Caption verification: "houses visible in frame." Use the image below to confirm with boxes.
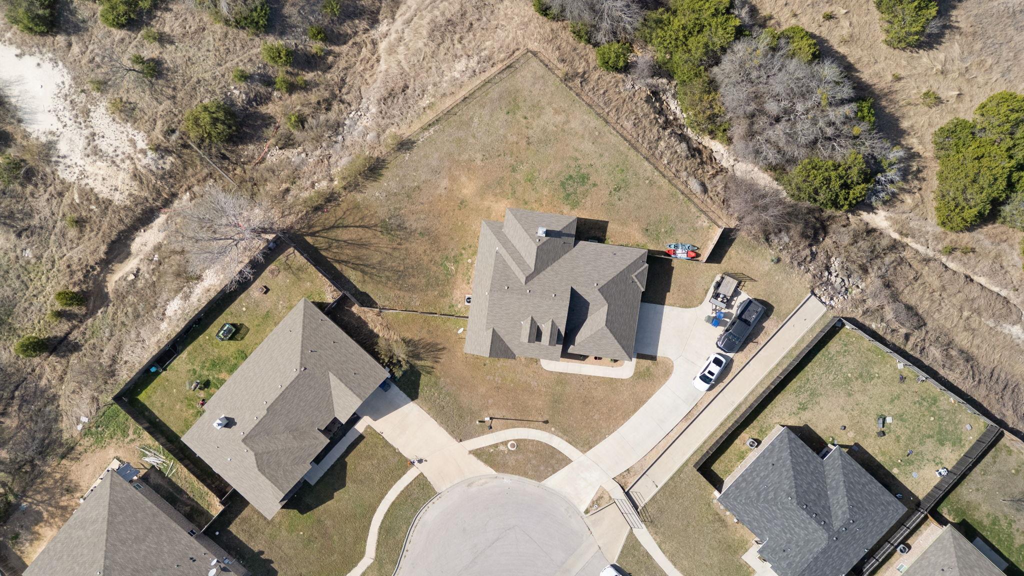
[881,521,1006,576]
[181,298,389,520]
[464,207,649,362]
[21,467,250,576]
[718,426,908,576]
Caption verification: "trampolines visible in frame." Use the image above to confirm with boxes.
[213,322,238,342]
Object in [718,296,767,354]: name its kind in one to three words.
truck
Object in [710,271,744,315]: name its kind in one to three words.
trailer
